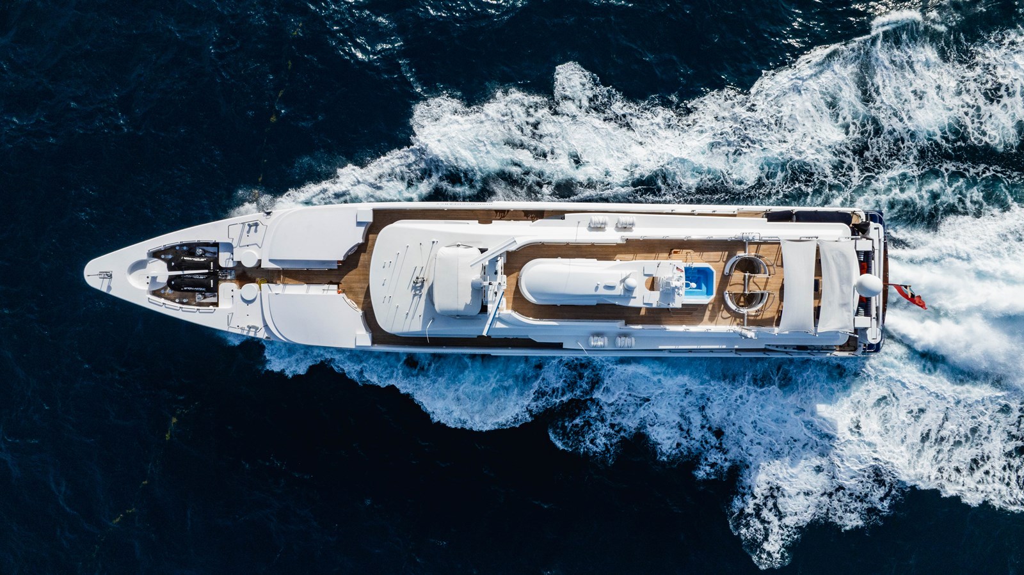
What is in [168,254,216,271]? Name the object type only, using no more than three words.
boat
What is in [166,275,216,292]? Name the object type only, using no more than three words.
boat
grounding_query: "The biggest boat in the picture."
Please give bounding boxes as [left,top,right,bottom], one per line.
[84,201,912,358]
